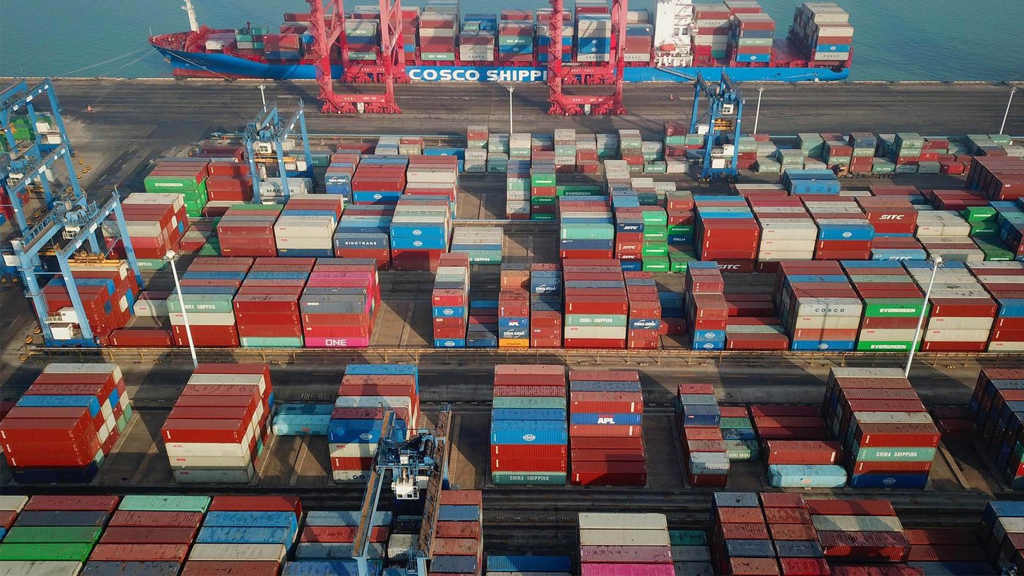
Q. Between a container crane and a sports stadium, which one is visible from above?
container crane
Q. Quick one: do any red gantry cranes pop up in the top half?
Yes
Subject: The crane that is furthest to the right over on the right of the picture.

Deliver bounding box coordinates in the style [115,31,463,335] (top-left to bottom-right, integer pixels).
[692,65,750,178]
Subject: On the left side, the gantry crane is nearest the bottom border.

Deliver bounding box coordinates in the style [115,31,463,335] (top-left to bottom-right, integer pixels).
[349,396,459,576]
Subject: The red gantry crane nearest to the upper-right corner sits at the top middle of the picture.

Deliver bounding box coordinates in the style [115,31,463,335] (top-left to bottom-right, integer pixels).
[541,0,630,114]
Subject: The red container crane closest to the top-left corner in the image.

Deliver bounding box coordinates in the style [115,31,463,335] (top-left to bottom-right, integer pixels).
[302,0,415,114]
